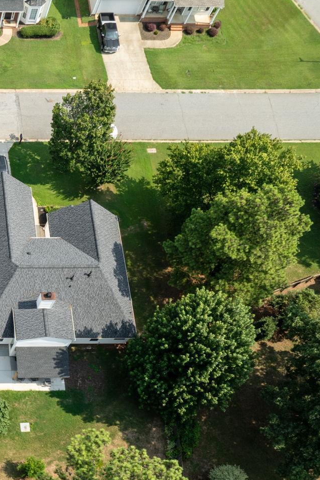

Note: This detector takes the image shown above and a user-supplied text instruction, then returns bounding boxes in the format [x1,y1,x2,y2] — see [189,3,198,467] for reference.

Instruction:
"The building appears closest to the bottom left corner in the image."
[0,173,136,384]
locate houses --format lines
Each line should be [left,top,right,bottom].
[0,0,59,32]
[0,173,136,384]
[87,0,225,29]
